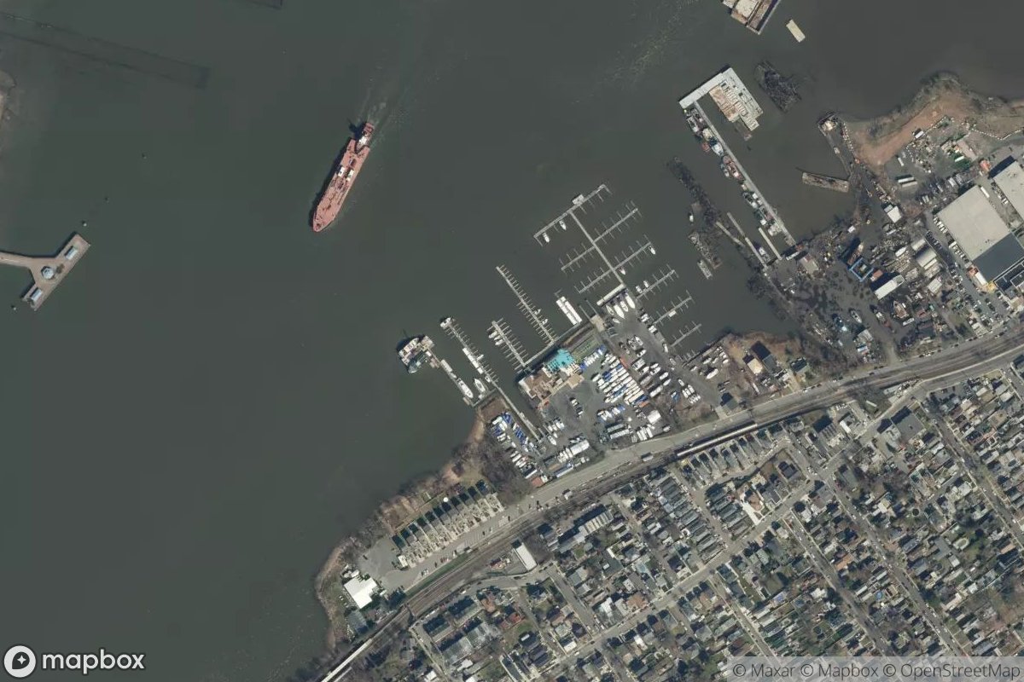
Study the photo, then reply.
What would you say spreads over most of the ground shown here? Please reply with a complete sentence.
Most of the picture is covered by water.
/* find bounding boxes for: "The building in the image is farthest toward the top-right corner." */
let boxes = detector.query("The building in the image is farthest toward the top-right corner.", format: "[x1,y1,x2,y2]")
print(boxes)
[994,156,1024,221]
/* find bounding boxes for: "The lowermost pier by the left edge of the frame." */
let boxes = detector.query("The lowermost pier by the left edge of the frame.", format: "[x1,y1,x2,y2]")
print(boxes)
[0,233,91,311]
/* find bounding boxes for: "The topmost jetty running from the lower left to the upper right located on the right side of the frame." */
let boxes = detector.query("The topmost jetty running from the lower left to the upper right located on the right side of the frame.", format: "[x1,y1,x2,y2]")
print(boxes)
[679,69,730,106]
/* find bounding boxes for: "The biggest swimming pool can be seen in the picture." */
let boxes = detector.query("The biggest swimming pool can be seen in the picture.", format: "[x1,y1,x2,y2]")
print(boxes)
[546,348,575,371]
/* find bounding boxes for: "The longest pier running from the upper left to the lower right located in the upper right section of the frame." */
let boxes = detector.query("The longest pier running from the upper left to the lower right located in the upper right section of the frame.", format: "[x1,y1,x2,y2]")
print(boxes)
[693,102,797,246]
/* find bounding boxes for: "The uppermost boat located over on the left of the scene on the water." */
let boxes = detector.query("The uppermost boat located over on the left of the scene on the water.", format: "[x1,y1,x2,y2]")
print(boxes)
[357,120,376,151]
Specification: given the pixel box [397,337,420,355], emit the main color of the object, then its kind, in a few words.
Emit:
white boat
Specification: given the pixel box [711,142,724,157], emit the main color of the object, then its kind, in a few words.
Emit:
white boat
